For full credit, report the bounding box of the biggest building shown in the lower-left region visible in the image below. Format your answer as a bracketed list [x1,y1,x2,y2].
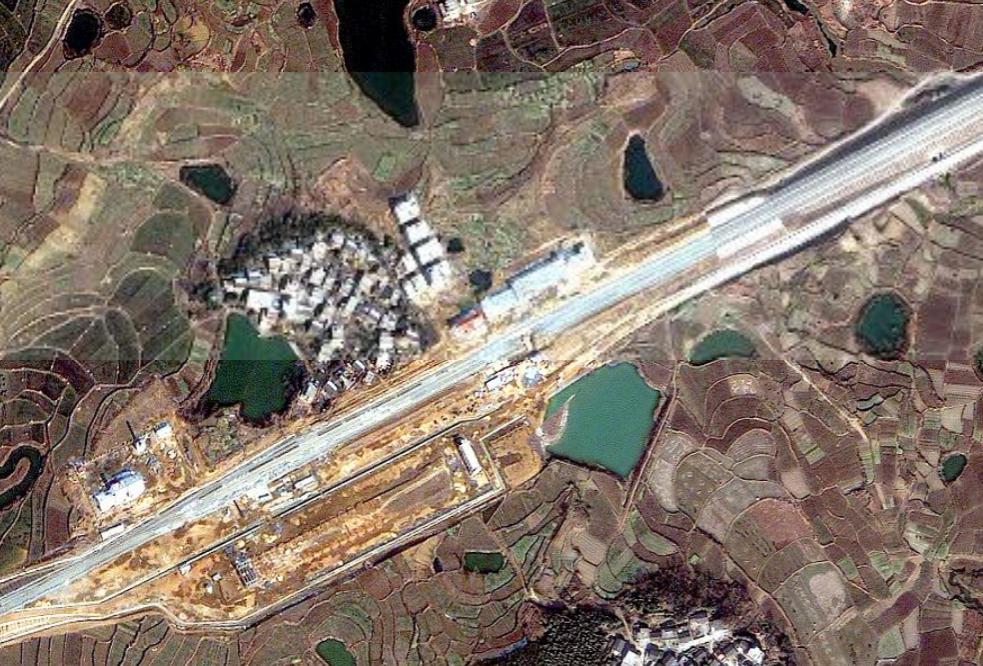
[93,475,142,511]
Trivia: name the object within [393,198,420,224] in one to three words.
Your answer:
house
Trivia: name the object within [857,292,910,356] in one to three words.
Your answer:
pond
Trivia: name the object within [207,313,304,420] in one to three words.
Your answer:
pond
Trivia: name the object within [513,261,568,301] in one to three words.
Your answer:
shed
